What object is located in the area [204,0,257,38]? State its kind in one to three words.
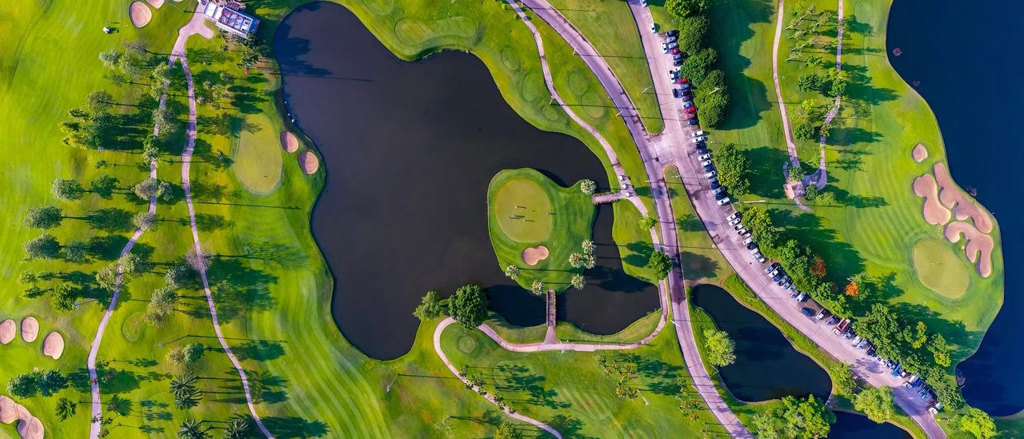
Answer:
building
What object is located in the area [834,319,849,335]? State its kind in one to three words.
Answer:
vehicle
